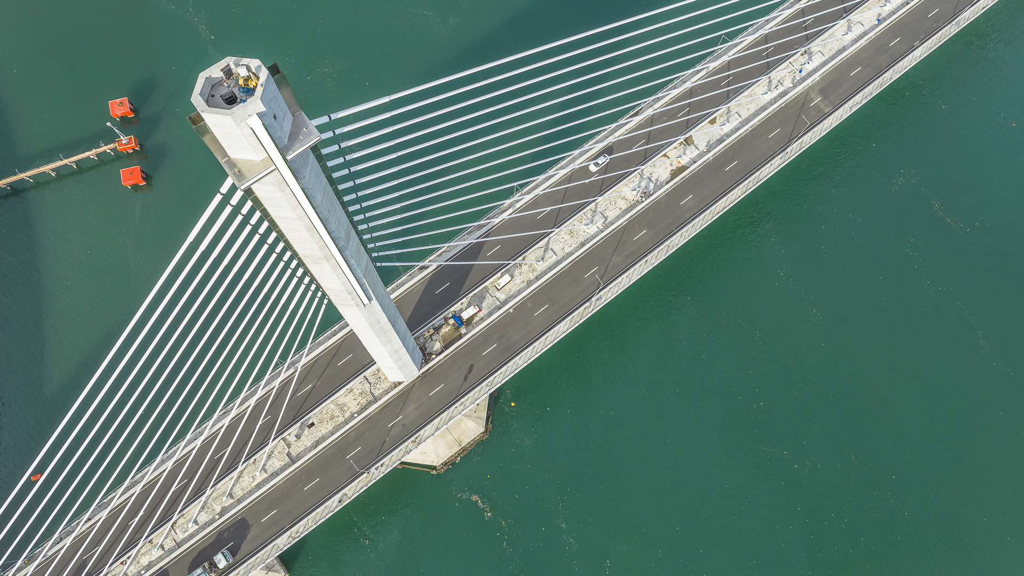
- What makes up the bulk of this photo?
water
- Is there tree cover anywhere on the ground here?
No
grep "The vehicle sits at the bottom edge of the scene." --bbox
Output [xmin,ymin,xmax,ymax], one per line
[192,549,239,576]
